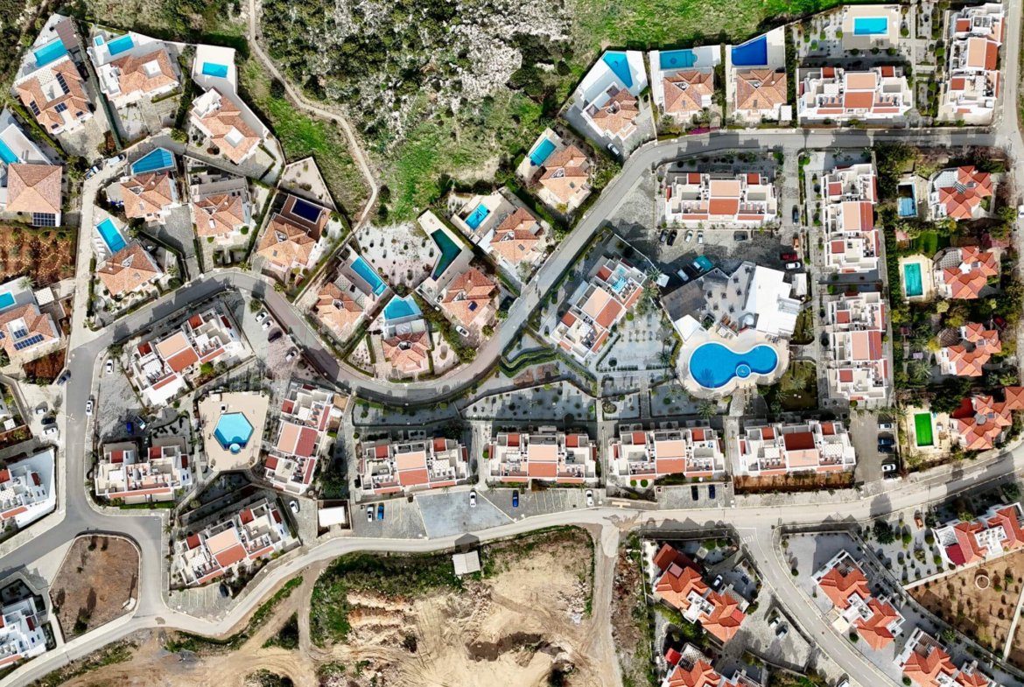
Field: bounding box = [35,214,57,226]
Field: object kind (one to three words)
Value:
solar panel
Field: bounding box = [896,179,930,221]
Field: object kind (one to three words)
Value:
swimming pool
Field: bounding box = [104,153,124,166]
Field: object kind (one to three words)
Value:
vehicle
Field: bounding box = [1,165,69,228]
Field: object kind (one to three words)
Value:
house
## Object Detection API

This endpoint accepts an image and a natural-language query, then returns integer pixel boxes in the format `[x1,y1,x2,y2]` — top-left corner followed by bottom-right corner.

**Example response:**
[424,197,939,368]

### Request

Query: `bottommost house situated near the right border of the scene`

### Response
[901,613,996,687]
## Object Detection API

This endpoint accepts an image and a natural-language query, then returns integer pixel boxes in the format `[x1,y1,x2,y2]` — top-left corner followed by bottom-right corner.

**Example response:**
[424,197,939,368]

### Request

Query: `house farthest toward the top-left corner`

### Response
[13,52,101,138]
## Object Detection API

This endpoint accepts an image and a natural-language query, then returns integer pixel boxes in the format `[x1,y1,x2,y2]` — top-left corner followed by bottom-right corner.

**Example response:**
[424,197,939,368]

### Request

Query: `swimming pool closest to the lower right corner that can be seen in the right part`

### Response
[901,405,949,456]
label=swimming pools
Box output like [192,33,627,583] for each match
[899,254,932,301]
[0,124,52,166]
[724,24,785,102]
[416,211,474,303]
[93,207,138,262]
[451,188,516,245]
[577,50,648,102]
[198,390,269,471]
[734,362,752,379]
[192,44,239,94]
[336,244,391,301]
[88,31,168,69]
[677,328,789,399]
[129,145,179,176]
[901,405,949,456]
[0,277,37,314]
[896,179,930,221]
[649,45,721,105]
[517,131,567,186]
[280,195,332,242]
[840,4,898,51]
